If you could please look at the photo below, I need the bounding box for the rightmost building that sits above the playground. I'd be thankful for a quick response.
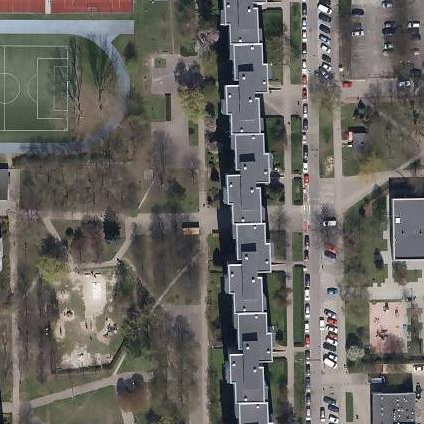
[392,199,424,262]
